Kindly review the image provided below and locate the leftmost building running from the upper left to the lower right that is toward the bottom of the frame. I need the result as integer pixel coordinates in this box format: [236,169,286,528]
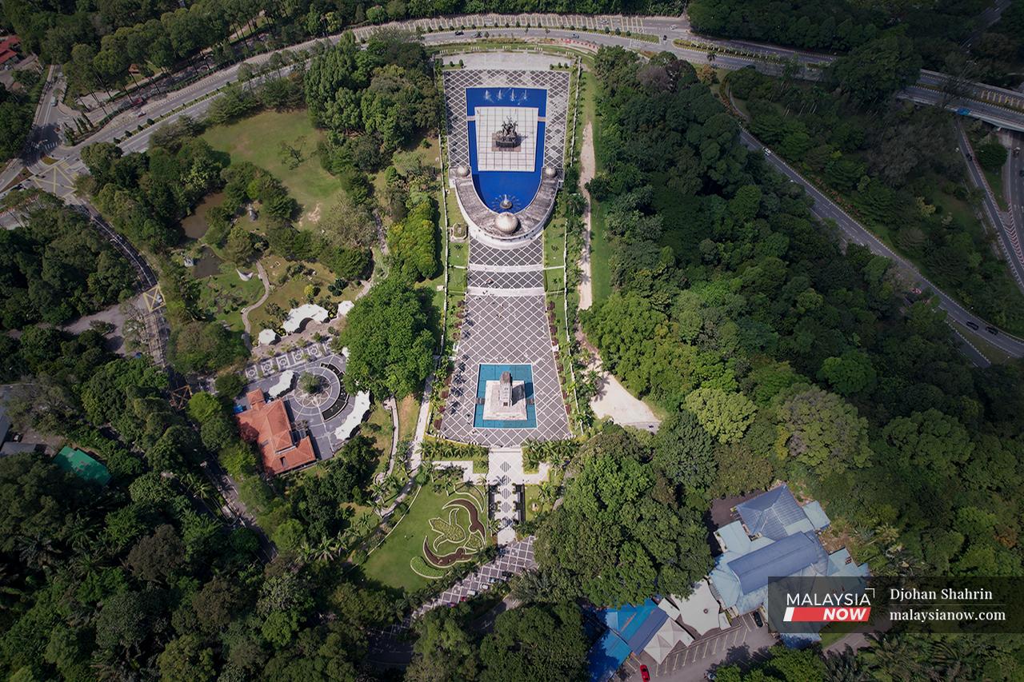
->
[57,446,117,487]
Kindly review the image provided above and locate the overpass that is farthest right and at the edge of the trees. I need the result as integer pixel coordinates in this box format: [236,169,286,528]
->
[897,71,1024,139]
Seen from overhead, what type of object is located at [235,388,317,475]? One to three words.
building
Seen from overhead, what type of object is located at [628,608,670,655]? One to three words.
shed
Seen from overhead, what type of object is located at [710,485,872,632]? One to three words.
building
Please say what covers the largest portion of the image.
trees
